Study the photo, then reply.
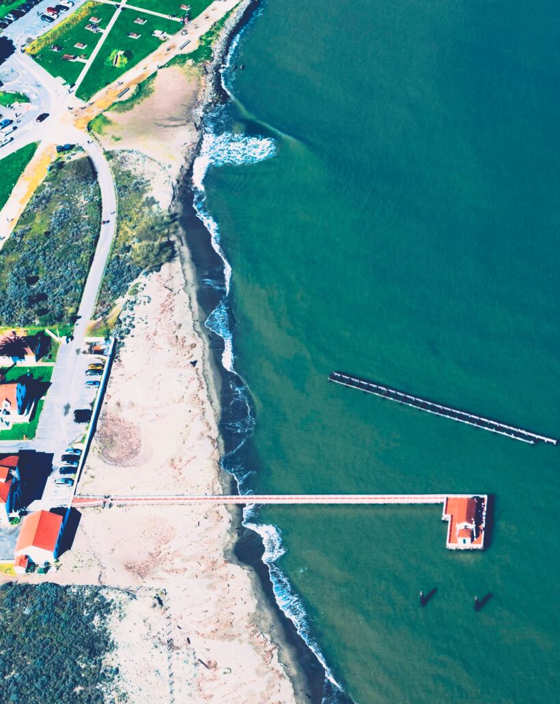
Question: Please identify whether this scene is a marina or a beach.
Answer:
beach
